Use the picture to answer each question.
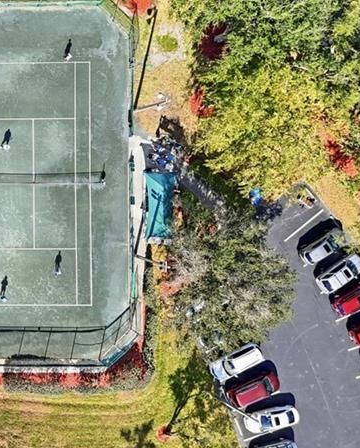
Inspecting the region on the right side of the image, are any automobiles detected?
Yes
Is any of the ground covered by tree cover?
Yes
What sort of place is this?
sports ground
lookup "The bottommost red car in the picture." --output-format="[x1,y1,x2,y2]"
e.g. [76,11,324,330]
[227,371,279,406]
